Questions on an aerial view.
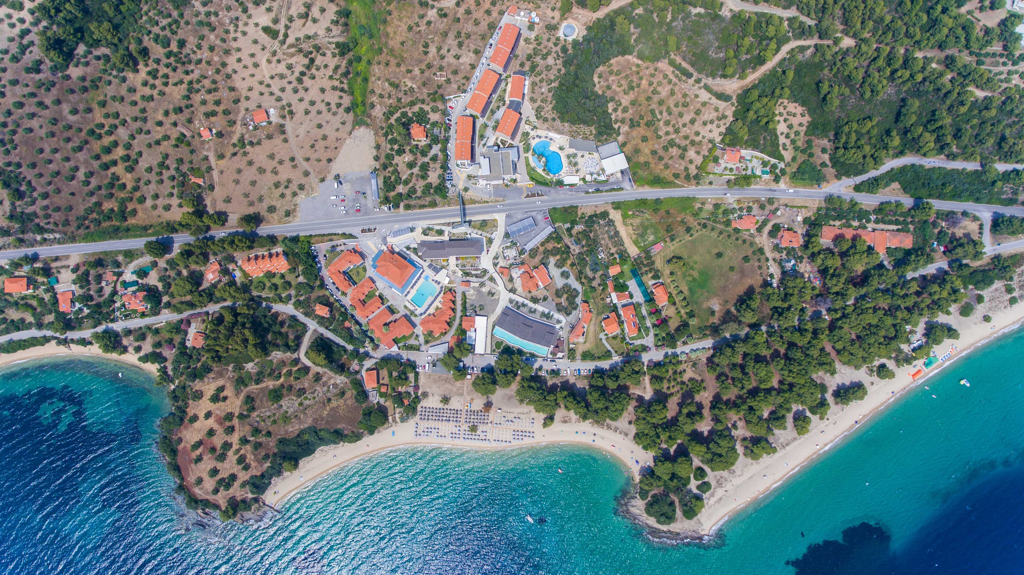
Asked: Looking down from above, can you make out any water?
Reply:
Yes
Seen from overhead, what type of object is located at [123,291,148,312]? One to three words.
house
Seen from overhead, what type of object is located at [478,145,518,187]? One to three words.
building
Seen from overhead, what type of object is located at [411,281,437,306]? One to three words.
swimming pool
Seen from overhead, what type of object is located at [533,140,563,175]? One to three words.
swimming pool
